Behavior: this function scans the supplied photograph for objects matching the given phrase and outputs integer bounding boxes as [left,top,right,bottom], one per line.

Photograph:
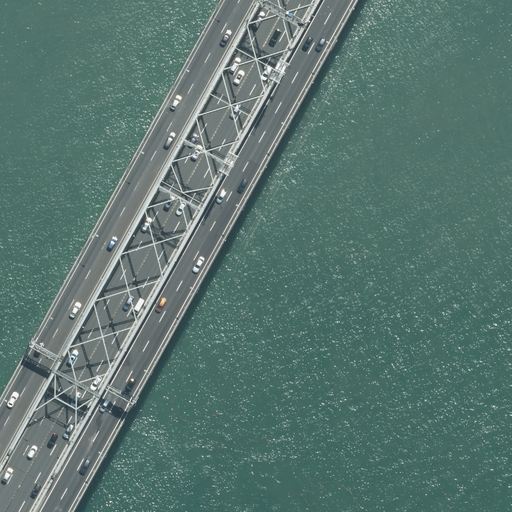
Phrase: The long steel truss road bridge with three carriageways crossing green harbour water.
[0,0,358,512]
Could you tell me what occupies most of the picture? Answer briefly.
water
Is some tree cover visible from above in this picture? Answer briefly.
No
